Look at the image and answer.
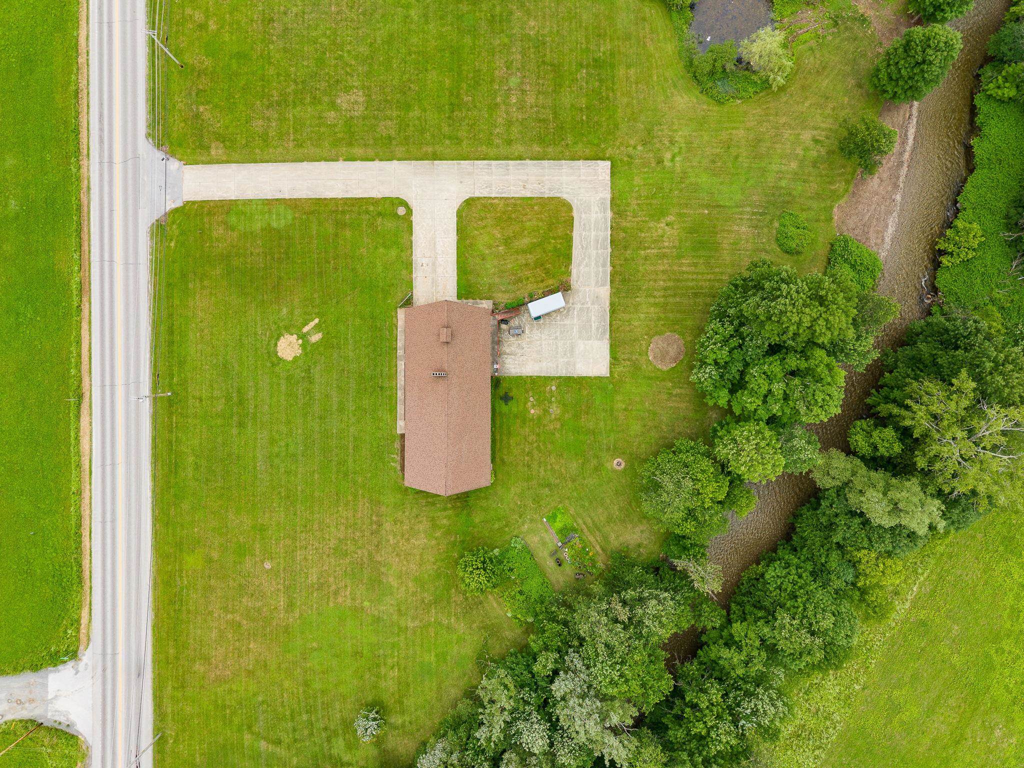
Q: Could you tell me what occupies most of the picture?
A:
grass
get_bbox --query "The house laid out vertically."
[404,300,498,496]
